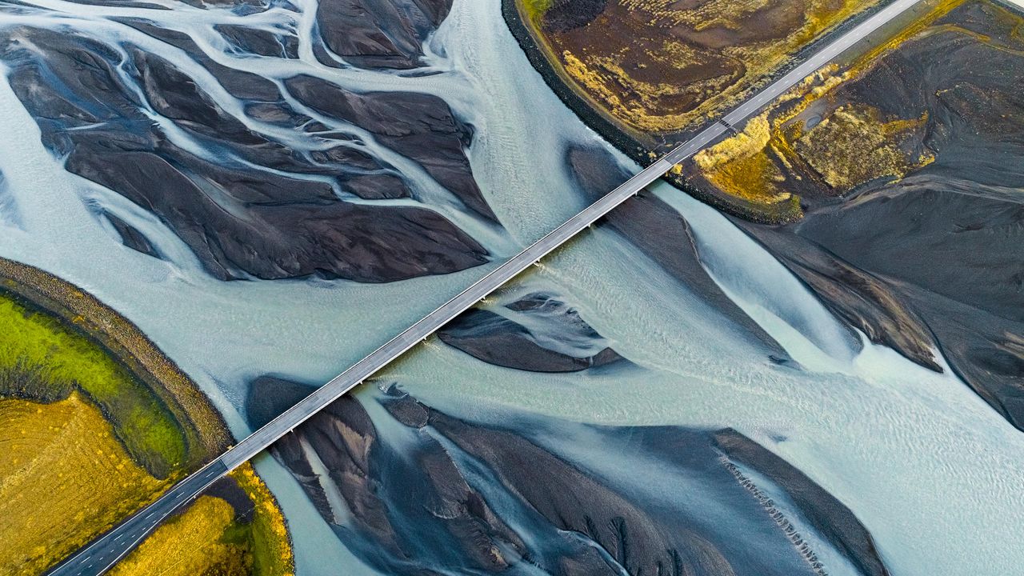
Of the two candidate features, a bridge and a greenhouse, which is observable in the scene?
bridge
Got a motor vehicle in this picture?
No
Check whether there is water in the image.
Yes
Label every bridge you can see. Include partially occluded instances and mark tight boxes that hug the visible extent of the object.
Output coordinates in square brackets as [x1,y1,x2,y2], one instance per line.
[219,157,673,472]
